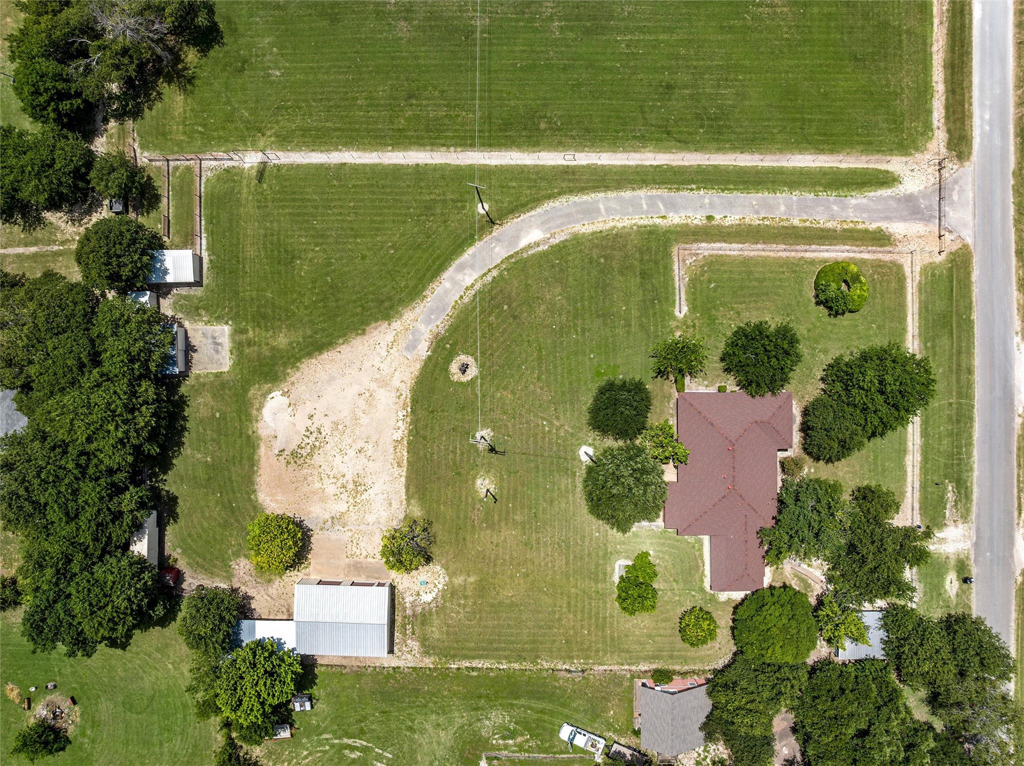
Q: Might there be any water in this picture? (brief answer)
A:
No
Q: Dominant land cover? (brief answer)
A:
grass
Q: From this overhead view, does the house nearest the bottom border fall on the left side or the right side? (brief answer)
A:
right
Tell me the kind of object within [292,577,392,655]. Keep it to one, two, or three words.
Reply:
building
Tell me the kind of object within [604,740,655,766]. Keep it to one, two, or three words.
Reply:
trailer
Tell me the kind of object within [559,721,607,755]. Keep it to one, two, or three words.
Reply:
truck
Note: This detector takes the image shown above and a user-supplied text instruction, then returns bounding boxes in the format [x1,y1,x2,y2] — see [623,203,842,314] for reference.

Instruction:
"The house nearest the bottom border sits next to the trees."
[634,680,708,766]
